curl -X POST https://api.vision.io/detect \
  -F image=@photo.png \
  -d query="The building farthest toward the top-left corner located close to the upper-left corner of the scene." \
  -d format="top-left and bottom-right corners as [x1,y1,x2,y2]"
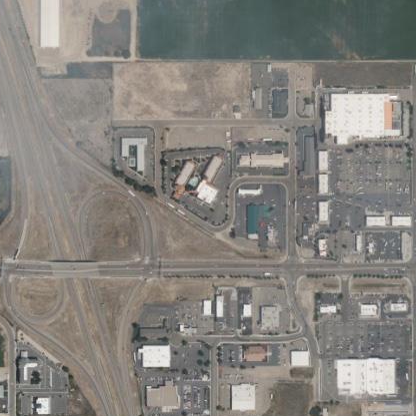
[41,0,60,48]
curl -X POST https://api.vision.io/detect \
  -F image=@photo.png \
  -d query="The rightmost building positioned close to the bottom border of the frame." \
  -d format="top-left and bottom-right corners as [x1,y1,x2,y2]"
[367,358,396,396]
